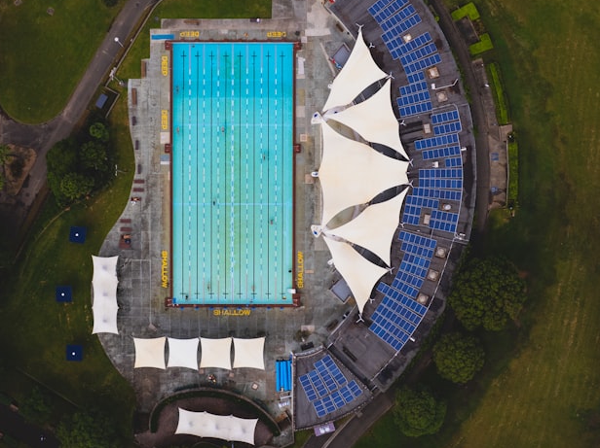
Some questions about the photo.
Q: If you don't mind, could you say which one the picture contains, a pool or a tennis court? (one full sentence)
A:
Of the two, only a pool appears.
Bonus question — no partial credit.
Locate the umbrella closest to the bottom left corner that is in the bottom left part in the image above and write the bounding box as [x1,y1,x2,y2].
[66,344,83,362]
